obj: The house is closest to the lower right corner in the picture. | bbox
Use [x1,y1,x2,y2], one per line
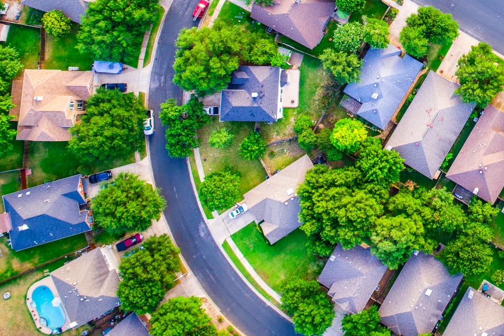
[442,287,504,336]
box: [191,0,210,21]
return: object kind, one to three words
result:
vehicle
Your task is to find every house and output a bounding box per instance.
[442,287,504,336]
[96,318,151,336]
[382,71,477,176]
[10,70,102,143]
[446,104,504,204]
[251,0,337,50]
[22,0,112,25]
[49,247,125,327]
[219,66,285,121]
[242,155,313,245]
[381,254,460,336]
[317,244,388,313]
[341,38,424,130]
[0,174,98,252]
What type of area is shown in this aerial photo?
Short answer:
residential area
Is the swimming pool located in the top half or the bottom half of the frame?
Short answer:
bottom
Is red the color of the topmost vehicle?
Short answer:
Yes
